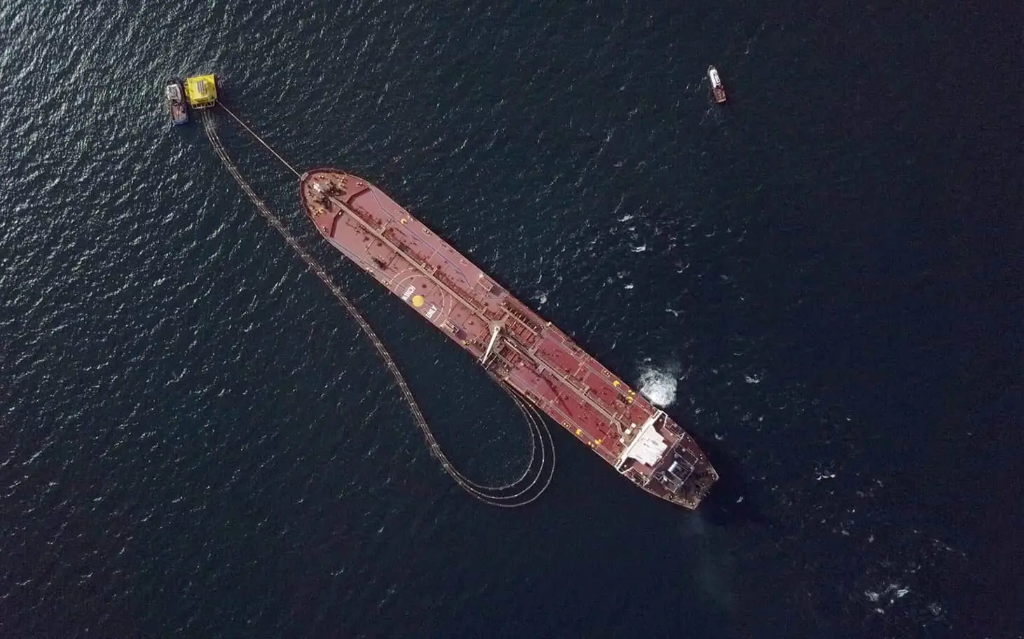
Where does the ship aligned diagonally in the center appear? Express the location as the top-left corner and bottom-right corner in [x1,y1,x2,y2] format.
[299,169,719,510]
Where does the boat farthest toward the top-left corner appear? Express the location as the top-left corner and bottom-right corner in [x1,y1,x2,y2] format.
[167,76,188,123]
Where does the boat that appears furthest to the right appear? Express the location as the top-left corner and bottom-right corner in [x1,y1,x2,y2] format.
[709,65,726,102]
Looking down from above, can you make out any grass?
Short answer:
No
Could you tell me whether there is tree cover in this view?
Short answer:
No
